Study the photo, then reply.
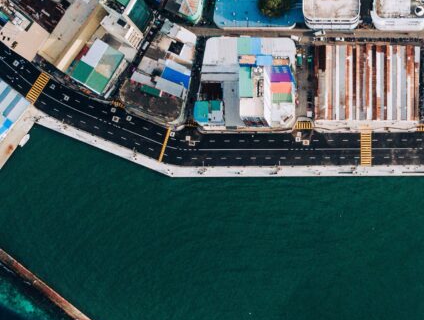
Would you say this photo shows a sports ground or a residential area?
residential area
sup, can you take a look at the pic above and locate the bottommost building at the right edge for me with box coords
[315,43,419,121]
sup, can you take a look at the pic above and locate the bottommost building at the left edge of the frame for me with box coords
[0,81,37,153]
